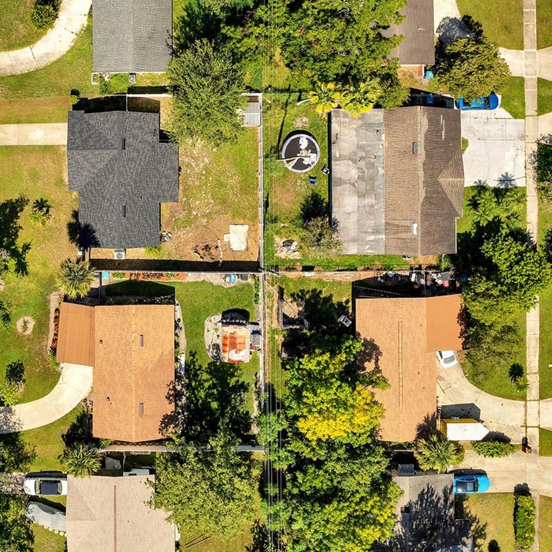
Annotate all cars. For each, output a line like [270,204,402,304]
[446,471,489,495]
[437,350,456,369]
[23,473,70,496]
[453,91,498,112]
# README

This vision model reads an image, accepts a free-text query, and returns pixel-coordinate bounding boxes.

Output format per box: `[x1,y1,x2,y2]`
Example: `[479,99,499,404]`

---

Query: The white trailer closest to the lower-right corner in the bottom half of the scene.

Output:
[438,415,491,440]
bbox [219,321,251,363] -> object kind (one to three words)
shed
